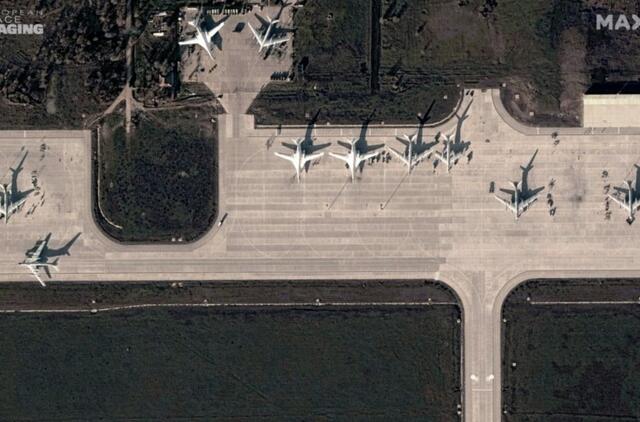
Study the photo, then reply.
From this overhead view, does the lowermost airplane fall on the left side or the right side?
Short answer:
left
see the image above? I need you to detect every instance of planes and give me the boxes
[248,13,290,54]
[274,136,323,183]
[609,179,640,221]
[179,16,223,59]
[434,131,463,173]
[329,136,379,183]
[0,181,28,223]
[388,133,432,174]
[19,242,60,286]
[495,179,539,219]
